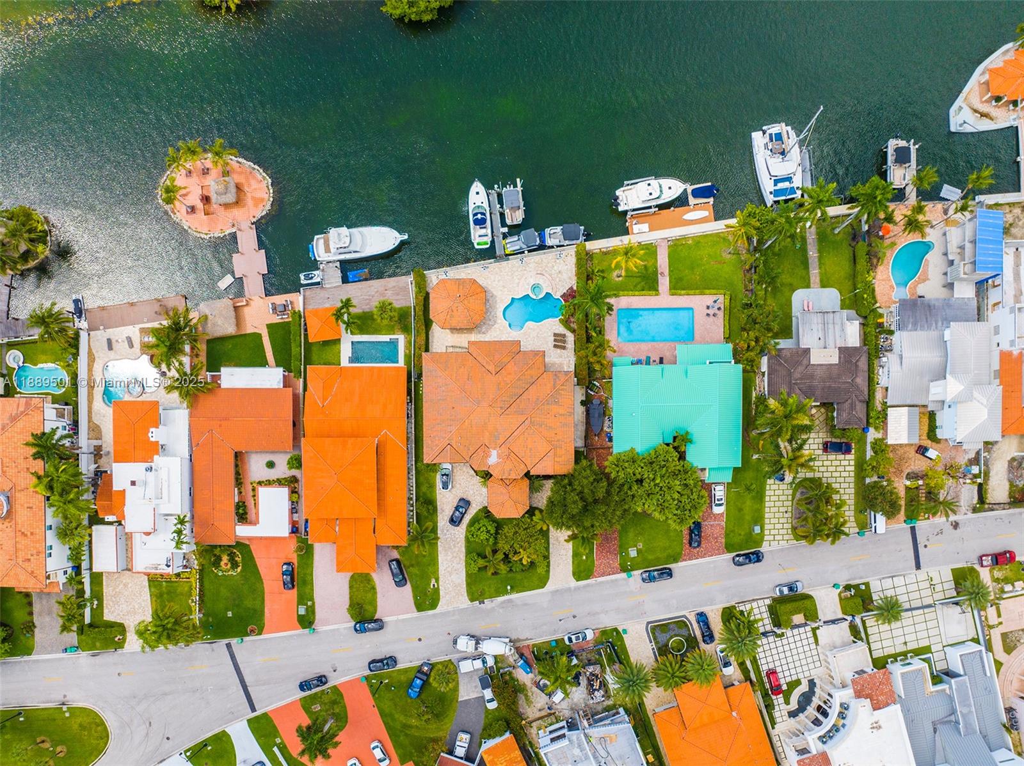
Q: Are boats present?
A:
Yes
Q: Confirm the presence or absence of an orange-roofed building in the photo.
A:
Yes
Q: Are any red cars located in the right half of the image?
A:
Yes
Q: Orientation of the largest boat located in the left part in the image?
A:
from side to side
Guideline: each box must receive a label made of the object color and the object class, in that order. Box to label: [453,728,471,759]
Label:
white vehicle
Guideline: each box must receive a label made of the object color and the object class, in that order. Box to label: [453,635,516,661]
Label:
white truck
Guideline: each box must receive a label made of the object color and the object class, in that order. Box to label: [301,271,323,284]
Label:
white boat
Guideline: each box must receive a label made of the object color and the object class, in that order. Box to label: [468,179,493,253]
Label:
white boat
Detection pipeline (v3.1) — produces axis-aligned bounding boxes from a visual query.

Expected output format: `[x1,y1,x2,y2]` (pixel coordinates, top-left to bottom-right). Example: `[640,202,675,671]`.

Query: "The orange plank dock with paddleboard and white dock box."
[625,201,715,235]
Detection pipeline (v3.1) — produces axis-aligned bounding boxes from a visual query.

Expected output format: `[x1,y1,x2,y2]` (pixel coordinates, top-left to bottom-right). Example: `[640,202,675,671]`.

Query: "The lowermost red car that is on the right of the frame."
[766,670,784,699]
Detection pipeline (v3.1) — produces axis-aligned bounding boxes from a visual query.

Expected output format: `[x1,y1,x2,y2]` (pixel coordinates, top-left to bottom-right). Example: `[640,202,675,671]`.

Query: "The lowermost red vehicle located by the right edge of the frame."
[980,551,1020,568]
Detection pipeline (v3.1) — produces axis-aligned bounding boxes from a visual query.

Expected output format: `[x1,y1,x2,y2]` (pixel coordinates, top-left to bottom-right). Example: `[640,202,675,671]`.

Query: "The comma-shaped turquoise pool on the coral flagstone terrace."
[888,239,935,301]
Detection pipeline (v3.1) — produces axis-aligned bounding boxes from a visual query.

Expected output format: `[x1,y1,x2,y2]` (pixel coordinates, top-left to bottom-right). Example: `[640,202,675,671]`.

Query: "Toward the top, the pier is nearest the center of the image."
[488,188,503,257]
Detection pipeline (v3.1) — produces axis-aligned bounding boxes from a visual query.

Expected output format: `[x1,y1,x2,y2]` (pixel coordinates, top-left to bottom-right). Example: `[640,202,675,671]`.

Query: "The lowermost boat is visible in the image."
[588,396,604,441]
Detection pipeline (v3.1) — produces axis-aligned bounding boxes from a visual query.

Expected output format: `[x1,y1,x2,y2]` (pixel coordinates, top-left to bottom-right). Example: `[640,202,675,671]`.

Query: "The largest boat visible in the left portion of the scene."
[311,225,403,260]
